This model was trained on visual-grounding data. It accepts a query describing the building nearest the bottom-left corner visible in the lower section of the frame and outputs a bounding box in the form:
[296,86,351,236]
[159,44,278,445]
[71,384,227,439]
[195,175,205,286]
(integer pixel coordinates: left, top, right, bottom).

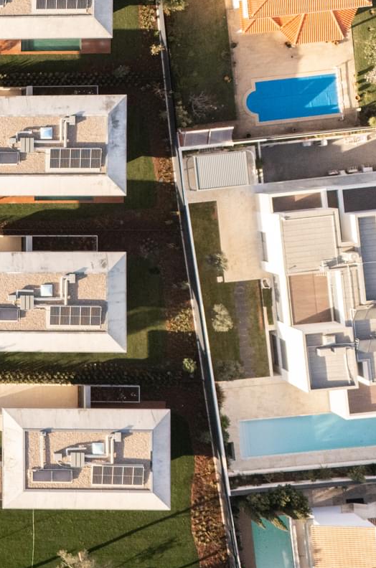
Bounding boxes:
[0,409,171,510]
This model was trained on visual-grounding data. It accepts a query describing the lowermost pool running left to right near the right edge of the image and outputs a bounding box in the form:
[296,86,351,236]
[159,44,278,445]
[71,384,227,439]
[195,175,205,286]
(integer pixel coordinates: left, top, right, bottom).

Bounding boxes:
[239,418,376,458]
